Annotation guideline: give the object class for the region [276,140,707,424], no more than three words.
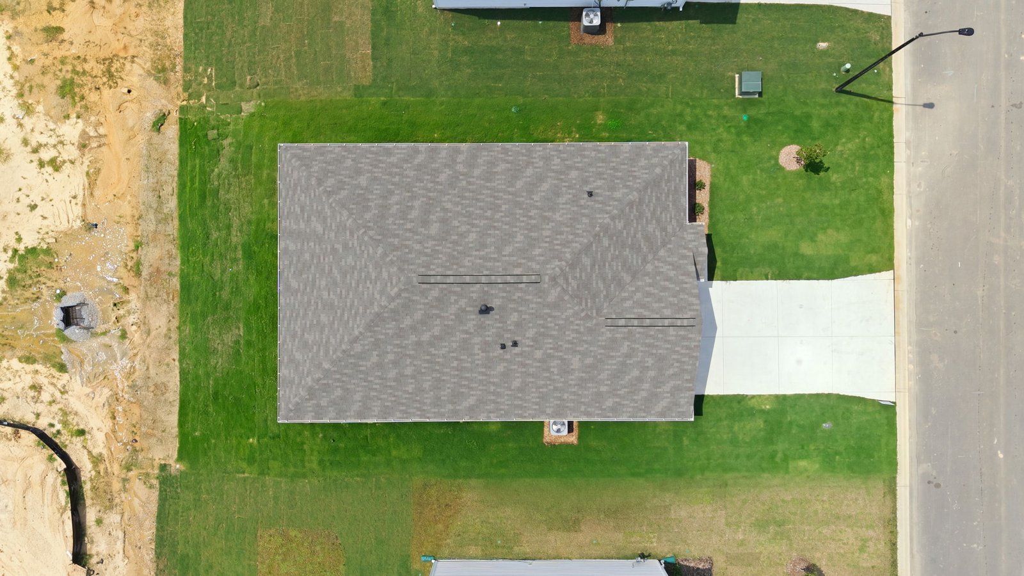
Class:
house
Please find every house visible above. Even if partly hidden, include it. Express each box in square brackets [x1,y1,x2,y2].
[431,0,686,13]
[276,140,707,424]
[428,556,670,576]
